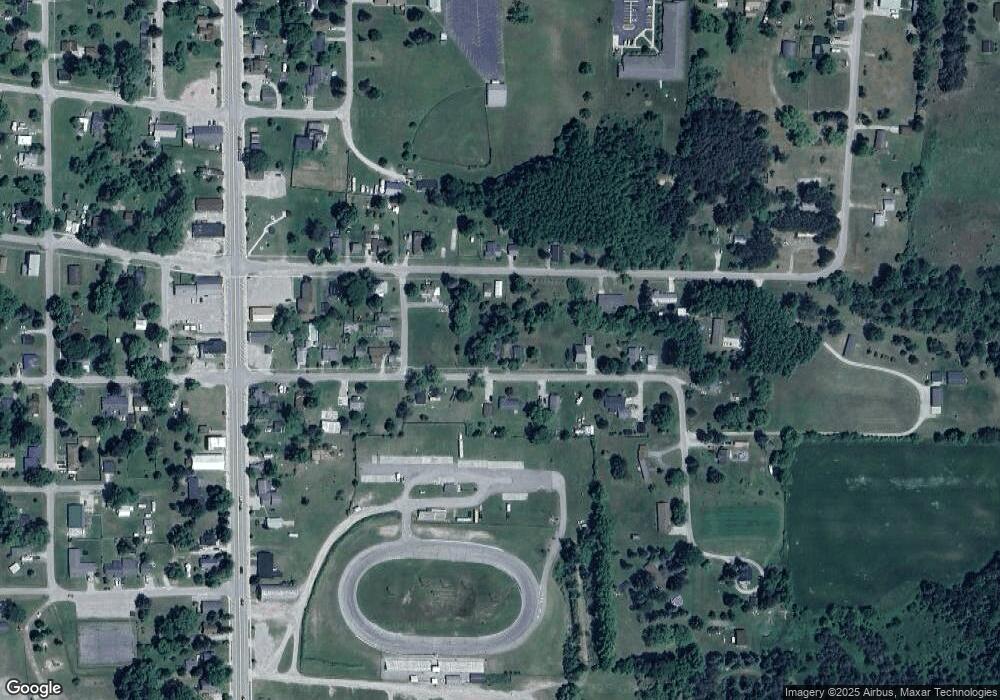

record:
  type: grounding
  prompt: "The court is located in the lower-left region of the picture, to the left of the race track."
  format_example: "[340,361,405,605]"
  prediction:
[79,622,135,666]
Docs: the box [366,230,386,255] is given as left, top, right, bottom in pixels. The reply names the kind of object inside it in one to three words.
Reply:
house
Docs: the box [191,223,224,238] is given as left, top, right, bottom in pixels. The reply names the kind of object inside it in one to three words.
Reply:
building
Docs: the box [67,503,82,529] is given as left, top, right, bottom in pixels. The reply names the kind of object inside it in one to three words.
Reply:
barn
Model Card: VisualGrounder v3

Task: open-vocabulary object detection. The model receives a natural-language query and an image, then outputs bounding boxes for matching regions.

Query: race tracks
[337,537,540,656]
